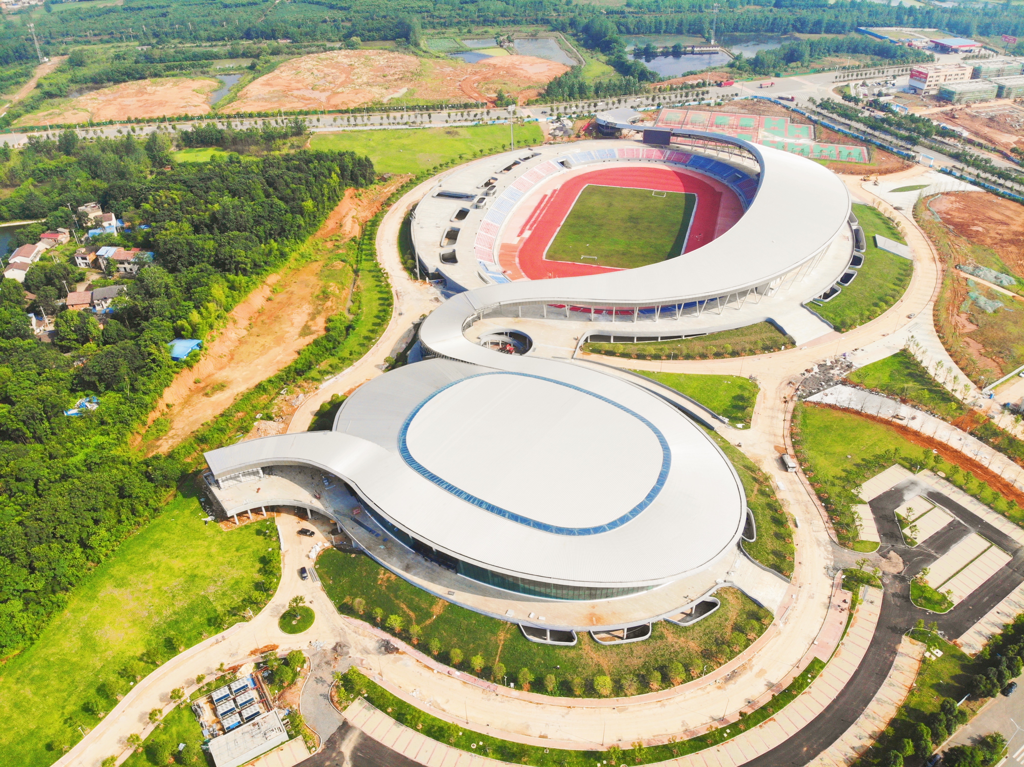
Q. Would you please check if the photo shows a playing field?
Yes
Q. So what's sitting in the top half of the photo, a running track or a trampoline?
running track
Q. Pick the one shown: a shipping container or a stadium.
stadium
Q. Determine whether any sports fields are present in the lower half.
No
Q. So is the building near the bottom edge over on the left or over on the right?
left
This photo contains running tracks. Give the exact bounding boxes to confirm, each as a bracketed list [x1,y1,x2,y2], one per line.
[519,168,723,279]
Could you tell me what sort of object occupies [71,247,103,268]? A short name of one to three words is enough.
house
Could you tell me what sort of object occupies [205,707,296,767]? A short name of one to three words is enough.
building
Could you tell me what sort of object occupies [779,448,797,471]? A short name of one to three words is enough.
vehicle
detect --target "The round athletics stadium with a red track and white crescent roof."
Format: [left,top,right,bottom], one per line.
[411,108,913,360]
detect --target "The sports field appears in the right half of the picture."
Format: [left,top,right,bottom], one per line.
[547,185,696,270]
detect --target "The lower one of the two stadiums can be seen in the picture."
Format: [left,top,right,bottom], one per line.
[201,292,792,646]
